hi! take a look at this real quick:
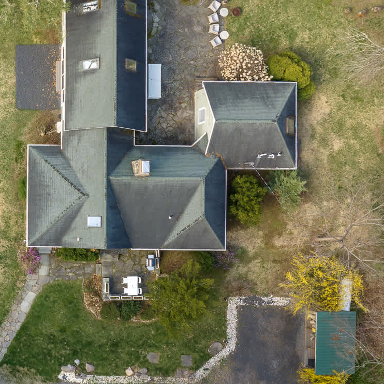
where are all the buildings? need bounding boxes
[23,0,298,257]
[304,309,357,375]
